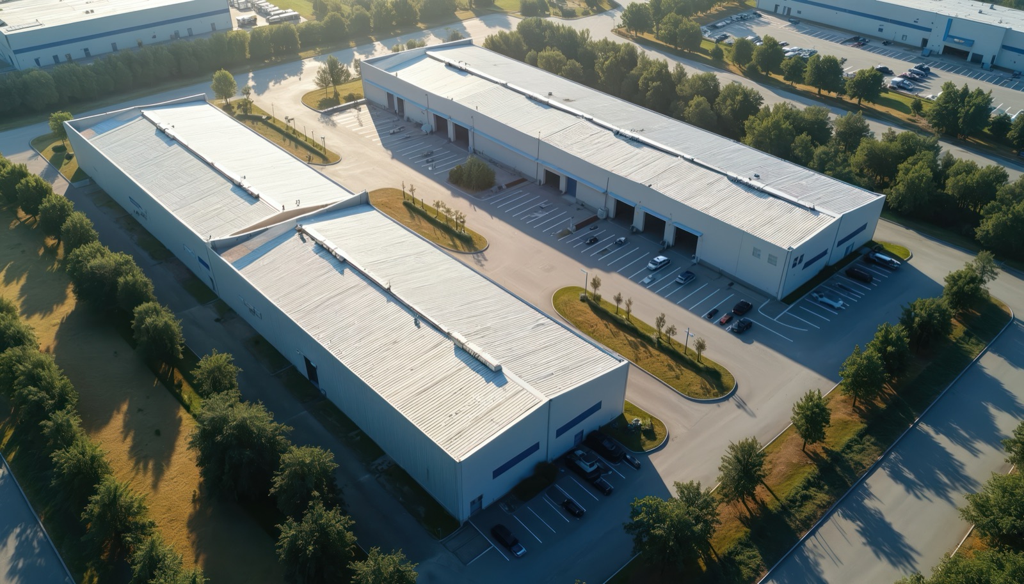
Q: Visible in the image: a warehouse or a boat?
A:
warehouse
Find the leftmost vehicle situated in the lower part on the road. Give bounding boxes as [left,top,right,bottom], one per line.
[484,515,531,559]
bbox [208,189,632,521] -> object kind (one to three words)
warehouse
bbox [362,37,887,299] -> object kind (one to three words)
warehouse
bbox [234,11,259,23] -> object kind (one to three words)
vehicle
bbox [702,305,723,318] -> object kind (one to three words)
vehicle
